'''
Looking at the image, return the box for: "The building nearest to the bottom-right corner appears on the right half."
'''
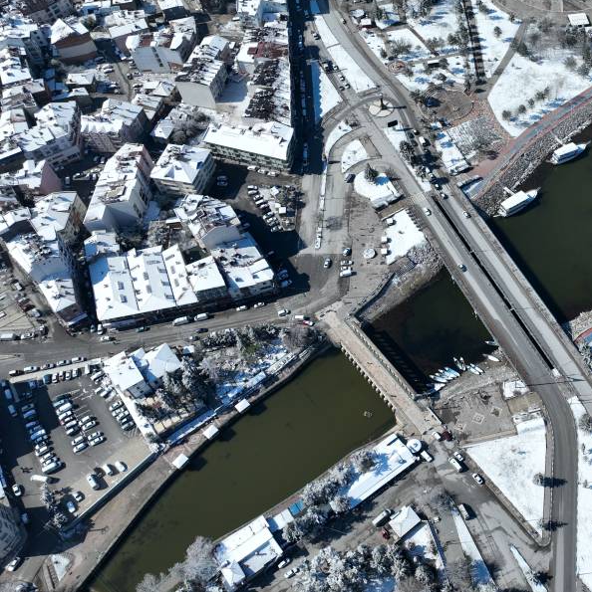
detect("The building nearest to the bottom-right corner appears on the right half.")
[388,506,420,540]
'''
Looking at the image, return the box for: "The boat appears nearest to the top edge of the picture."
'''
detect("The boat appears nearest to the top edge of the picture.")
[548,138,589,163]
